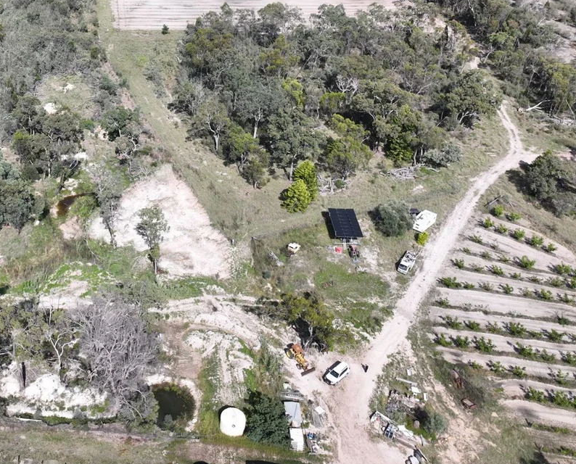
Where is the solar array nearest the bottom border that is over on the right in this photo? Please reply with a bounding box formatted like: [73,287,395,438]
[329,208,363,243]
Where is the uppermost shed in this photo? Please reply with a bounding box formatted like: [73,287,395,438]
[284,402,304,431]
